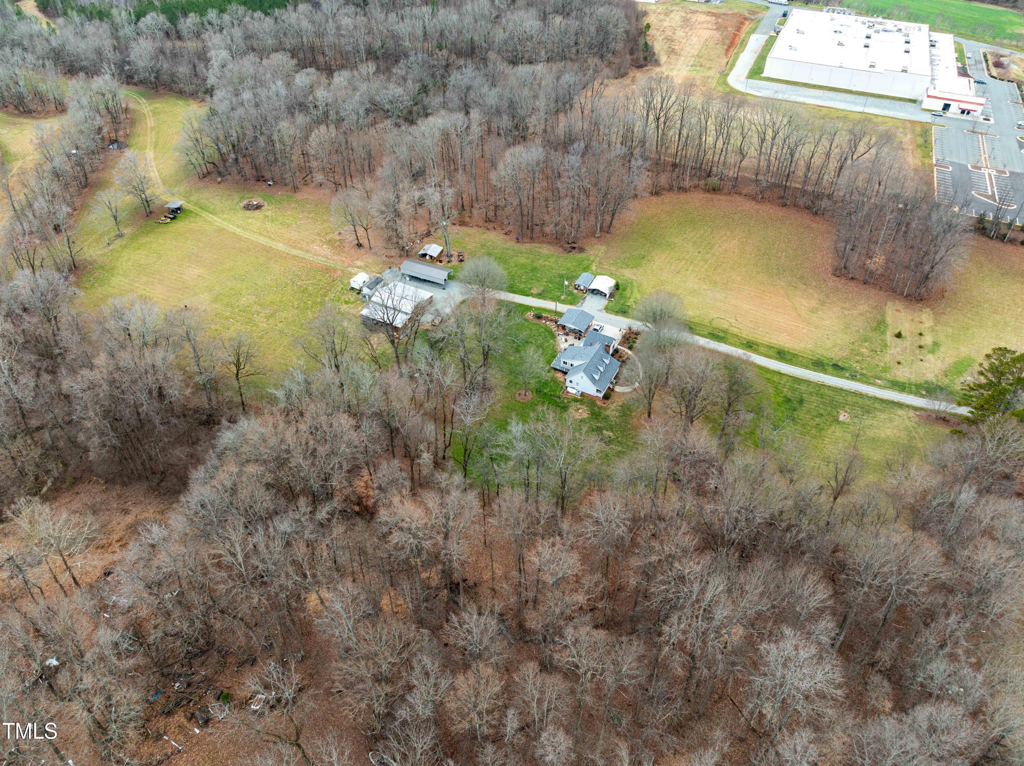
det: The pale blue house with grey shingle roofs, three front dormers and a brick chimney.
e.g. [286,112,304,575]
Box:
[551,329,622,400]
